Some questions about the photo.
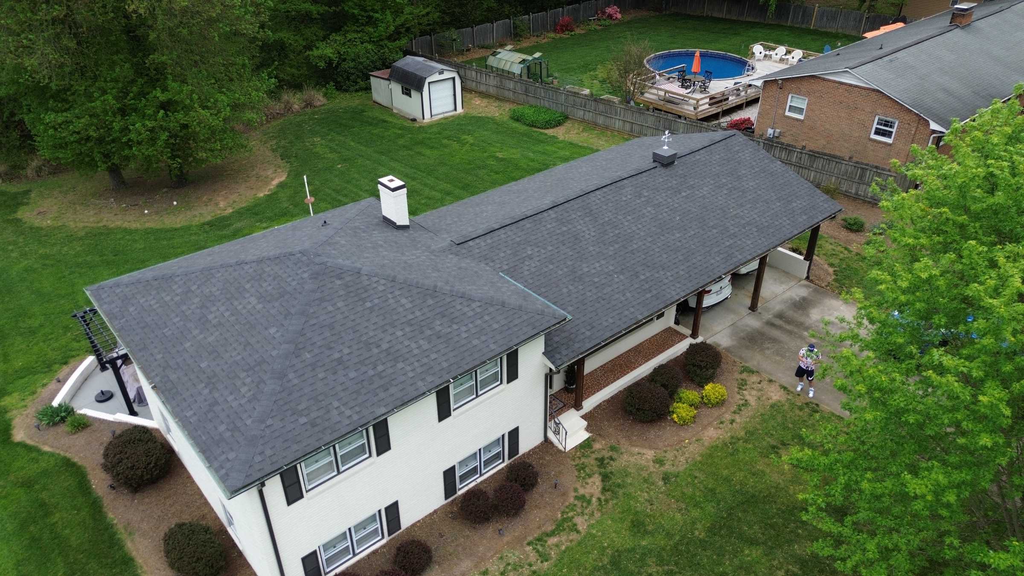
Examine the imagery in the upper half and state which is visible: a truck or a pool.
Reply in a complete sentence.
What appears in the upper half is a pool.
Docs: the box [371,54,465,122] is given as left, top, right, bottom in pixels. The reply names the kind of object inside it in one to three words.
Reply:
shed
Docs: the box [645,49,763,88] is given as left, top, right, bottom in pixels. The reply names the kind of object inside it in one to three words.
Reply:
swimming pool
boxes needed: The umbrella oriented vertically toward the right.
[689,48,701,76]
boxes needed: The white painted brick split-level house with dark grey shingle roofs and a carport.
[82,126,846,576]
